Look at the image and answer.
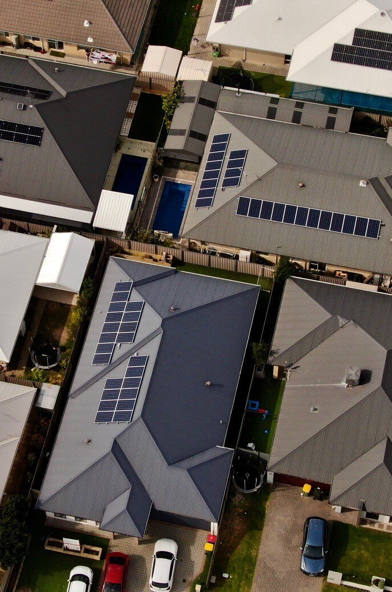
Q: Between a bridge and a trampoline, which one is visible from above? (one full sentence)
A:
I can see a trampoline in this picture.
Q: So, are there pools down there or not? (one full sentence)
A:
Yes, a pool appears in the view.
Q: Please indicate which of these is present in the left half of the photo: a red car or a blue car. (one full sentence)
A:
There is a red car in the left half of the photo.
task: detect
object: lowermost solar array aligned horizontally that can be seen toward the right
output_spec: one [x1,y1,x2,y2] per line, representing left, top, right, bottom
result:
[237,197,381,239]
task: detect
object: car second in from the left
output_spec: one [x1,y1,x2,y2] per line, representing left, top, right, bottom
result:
[97,550,130,592]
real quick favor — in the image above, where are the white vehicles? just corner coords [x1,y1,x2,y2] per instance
[149,538,180,592]
[63,564,93,592]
